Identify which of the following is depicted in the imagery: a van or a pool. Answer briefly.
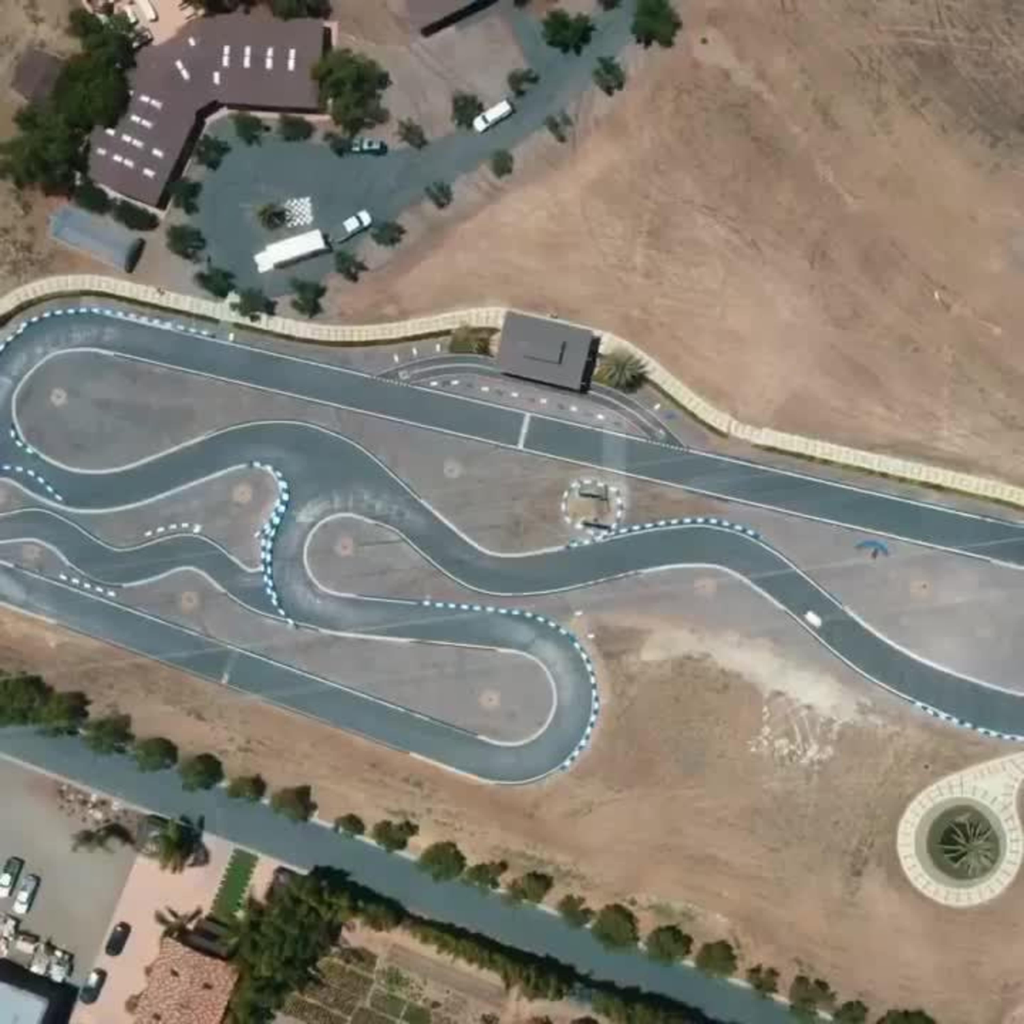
van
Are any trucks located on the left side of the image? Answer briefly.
Yes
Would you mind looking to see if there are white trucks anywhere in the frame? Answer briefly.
Yes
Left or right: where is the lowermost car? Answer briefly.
left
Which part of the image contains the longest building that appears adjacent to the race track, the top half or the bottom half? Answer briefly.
top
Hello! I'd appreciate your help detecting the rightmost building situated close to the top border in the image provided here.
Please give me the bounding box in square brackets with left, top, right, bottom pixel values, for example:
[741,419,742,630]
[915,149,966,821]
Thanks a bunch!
[407,0,488,40]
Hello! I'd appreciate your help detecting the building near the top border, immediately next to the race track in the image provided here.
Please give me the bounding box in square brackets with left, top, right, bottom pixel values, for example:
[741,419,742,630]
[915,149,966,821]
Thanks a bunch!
[87,13,324,213]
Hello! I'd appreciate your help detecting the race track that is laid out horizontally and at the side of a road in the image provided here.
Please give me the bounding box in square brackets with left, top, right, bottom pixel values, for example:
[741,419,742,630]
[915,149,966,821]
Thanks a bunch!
[0,312,1024,783]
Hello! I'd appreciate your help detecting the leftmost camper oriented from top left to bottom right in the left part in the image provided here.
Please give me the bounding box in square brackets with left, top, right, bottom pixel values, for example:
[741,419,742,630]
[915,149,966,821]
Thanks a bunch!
[134,0,157,25]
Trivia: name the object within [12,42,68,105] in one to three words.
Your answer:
shed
